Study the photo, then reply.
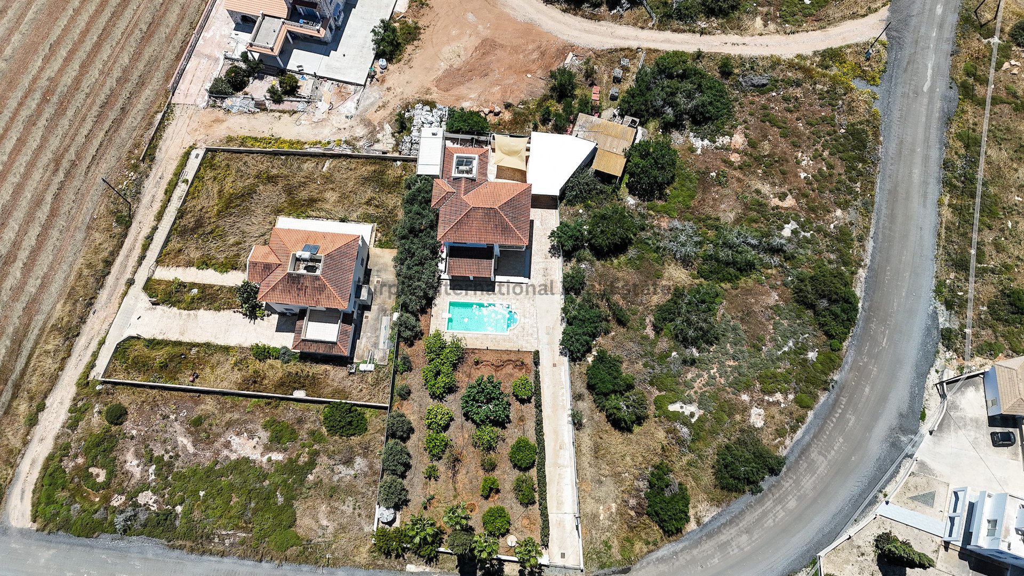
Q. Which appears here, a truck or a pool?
pool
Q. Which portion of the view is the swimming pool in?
center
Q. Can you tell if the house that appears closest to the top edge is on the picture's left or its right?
left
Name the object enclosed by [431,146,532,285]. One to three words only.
building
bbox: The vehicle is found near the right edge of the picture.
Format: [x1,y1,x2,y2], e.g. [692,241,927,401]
[988,431,1017,446]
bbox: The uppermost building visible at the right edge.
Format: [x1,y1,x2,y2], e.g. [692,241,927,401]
[984,364,1024,420]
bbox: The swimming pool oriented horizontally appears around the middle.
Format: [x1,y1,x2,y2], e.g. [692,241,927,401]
[442,301,520,334]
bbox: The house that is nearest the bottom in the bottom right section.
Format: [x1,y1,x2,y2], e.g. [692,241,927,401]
[962,491,1024,571]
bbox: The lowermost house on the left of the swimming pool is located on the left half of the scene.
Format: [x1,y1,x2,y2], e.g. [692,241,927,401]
[245,216,378,357]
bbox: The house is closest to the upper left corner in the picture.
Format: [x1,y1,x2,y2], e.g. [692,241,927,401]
[223,0,351,69]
